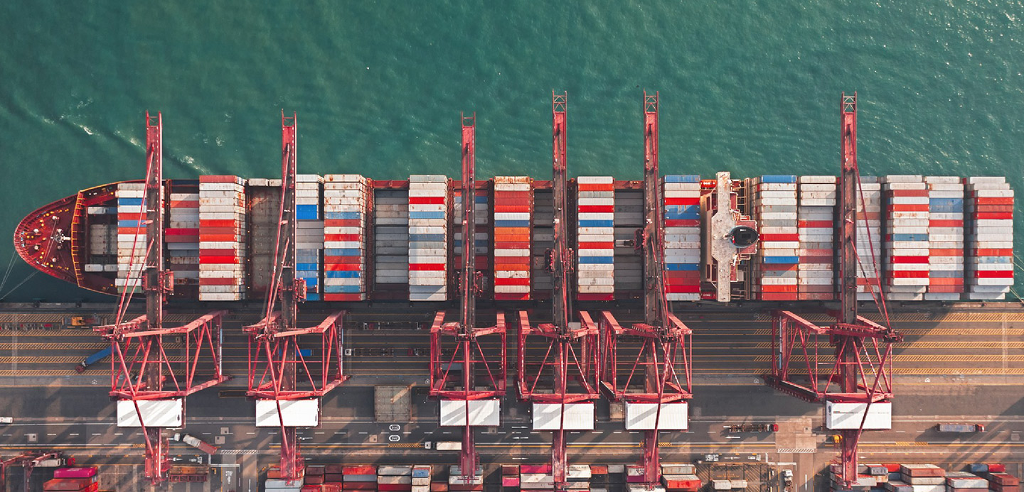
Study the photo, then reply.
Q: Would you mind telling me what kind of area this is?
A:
port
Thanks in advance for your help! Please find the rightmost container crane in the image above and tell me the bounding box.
[759,92,897,490]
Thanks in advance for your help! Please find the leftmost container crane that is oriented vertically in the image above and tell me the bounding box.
[100,112,246,490]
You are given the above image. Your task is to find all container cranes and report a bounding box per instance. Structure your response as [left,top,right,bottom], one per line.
[100,112,246,490]
[0,452,59,492]
[759,92,897,490]
[512,92,600,490]
[428,112,512,490]
[245,112,360,490]
[591,92,694,490]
